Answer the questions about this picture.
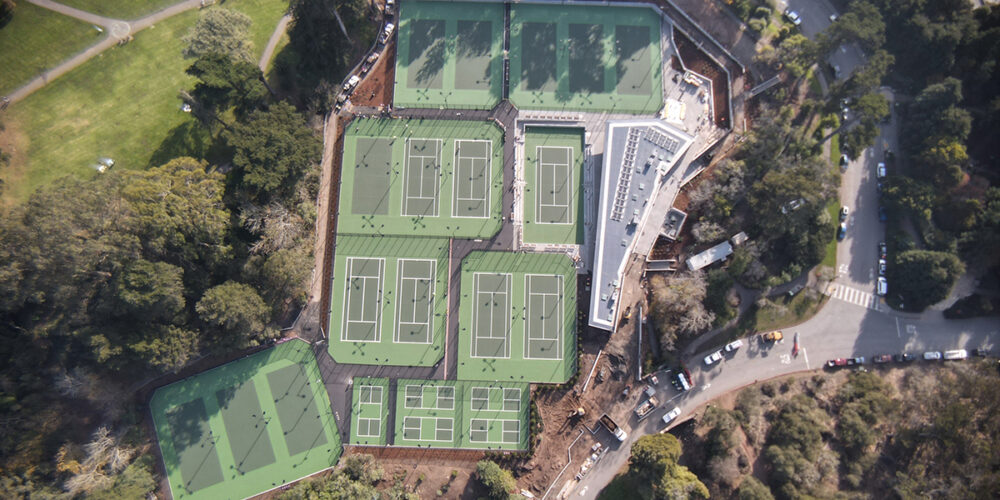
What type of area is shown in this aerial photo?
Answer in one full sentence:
This image shows a sports ground.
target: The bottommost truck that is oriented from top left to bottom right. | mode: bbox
[598,414,626,442]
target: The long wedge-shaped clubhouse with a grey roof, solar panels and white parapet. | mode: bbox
[589,120,693,332]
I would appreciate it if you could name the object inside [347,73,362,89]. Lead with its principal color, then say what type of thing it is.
white vehicle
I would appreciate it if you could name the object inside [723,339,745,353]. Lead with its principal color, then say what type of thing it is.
white vehicle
